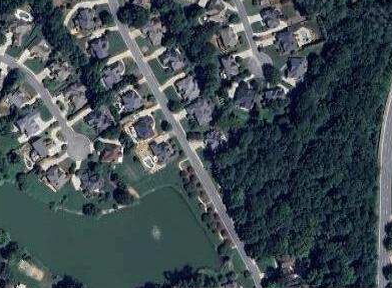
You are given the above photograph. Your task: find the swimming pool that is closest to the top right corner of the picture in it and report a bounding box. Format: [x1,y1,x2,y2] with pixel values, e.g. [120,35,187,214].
[293,22,316,48]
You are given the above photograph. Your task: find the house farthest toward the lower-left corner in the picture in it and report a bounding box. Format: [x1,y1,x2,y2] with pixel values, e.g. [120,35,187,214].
[42,159,70,192]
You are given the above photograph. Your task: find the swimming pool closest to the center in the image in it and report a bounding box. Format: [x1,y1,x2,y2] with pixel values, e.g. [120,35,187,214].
[142,153,156,170]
